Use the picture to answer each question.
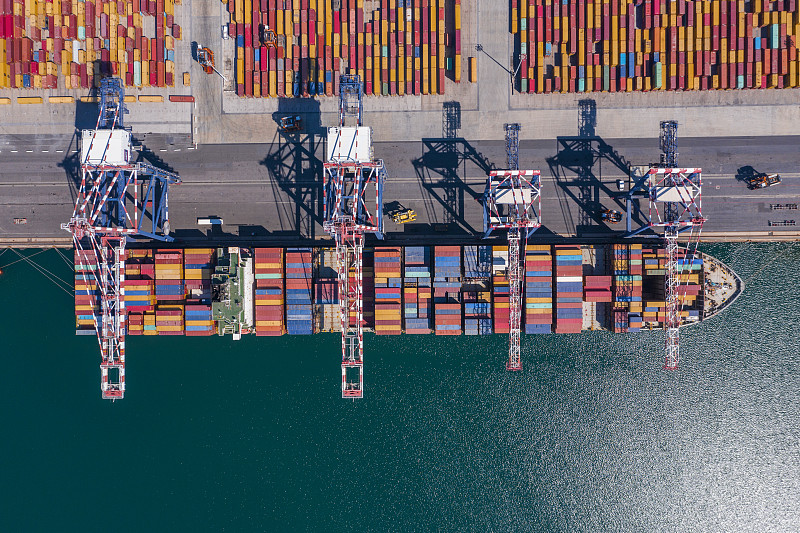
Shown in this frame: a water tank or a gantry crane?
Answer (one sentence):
The image shows a gantry crane.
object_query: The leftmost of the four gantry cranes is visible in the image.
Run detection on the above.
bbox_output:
[61,78,184,406]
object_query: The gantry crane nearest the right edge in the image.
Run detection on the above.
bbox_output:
[605,119,714,370]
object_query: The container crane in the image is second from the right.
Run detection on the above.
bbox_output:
[466,120,547,372]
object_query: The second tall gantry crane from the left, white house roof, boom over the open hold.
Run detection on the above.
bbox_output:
[321,76,393,404]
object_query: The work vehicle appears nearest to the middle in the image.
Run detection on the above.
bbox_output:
[394,208,416,224]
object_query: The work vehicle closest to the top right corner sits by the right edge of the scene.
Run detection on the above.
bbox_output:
[748,174,781,191]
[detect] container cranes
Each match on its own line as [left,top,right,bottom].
[61,78,184,406]
[605,119,714,370]
[466,120,547,372]
[321,76,393,404]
